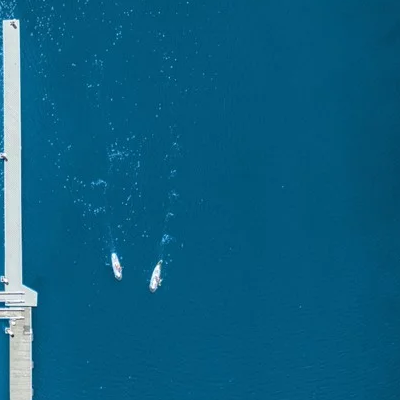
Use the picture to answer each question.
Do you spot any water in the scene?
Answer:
Yes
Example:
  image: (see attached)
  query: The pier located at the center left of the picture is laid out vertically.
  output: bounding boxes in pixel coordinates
[3,20,37,306]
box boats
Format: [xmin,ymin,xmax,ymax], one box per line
[151,262,161,291]
[113,254,122,280]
